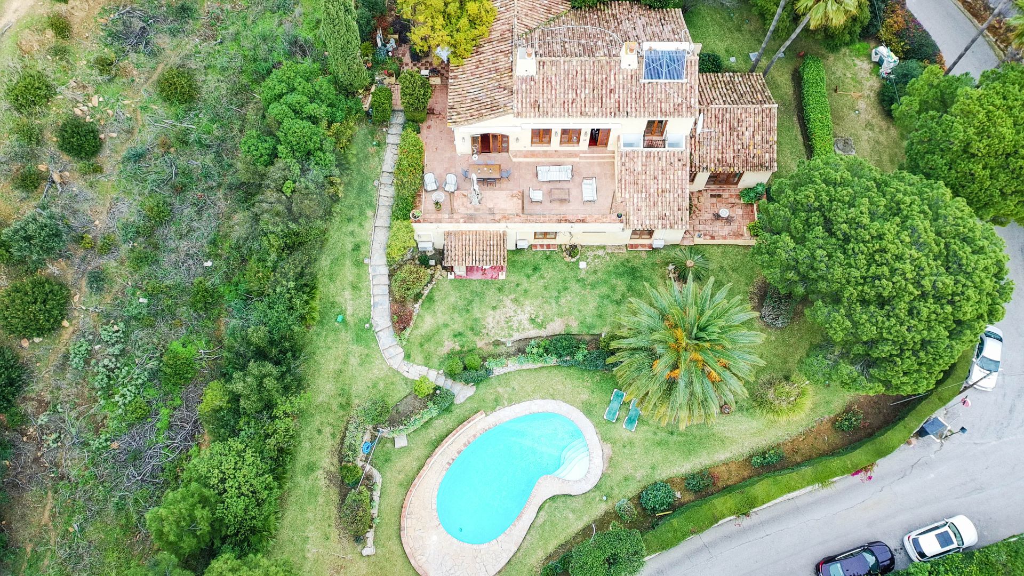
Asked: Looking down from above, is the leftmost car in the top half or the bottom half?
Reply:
bottom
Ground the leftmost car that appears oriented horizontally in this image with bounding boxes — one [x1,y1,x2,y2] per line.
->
[818,540,900,576]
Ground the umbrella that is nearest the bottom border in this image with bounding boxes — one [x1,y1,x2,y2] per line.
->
[470,181,483,209]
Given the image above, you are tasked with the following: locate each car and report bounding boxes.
[906,515,985,565]
[818,540,900,576]
[970,323,1014,391]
